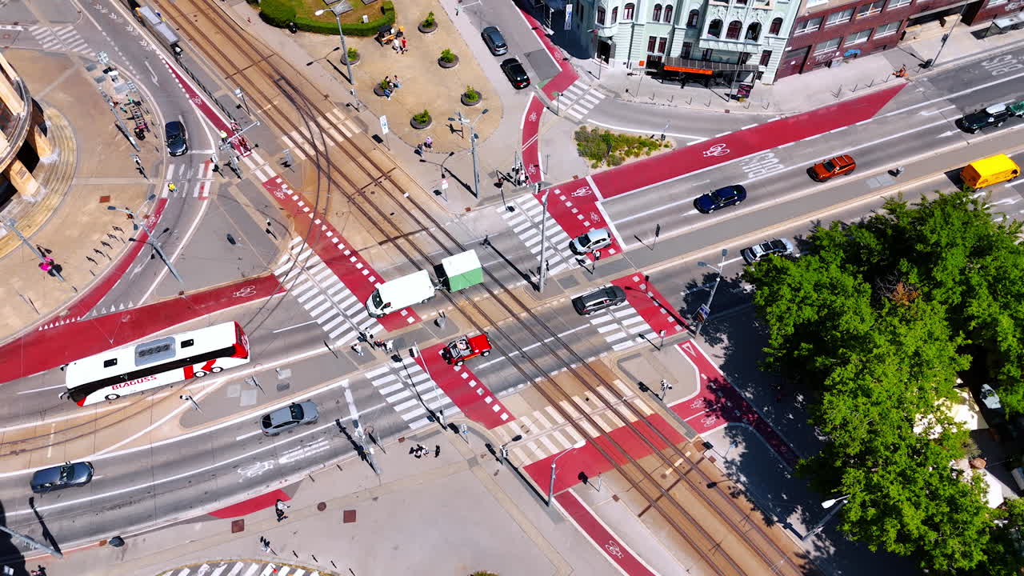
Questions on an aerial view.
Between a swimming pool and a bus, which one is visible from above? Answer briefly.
bus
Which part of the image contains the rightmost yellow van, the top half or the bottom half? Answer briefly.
top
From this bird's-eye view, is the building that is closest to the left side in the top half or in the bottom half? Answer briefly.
top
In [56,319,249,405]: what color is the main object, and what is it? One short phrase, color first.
white bus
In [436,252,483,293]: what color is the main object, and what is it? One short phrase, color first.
white trailer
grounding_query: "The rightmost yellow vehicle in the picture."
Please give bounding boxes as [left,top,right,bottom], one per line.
[963,154,1023,189]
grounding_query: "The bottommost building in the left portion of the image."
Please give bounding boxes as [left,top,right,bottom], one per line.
[0,75,79,256]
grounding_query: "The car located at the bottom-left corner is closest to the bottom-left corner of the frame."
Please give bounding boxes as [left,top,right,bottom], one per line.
[24,458,95,496]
